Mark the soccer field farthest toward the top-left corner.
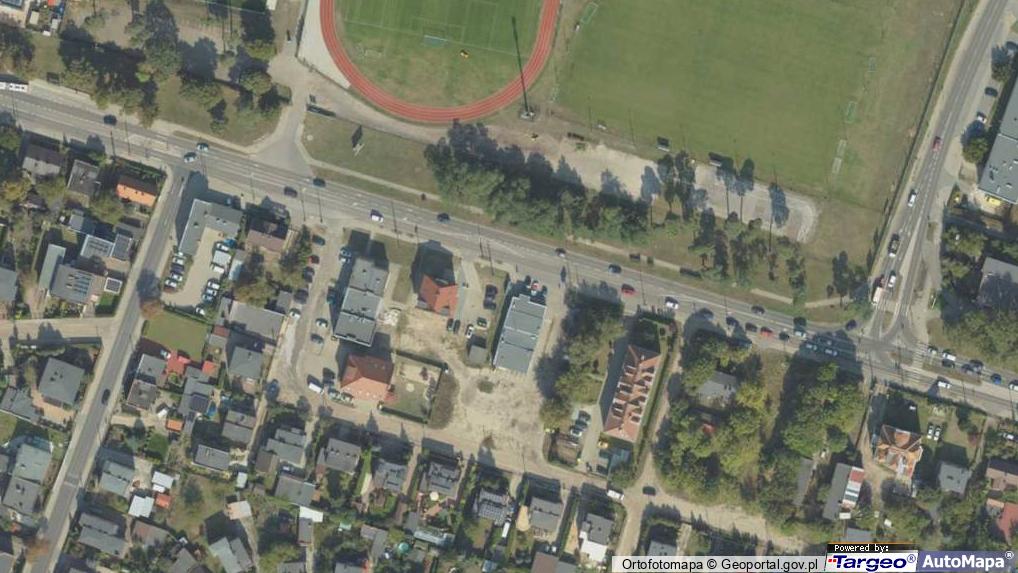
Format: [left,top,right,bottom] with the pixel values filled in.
[345,0,544,60]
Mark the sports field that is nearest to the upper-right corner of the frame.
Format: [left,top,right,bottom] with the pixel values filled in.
[560,0,885,194]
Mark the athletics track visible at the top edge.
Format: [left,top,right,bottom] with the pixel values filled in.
[320,0,562,124]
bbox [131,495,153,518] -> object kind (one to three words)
shed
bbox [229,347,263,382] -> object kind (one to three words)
house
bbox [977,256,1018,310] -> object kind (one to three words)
building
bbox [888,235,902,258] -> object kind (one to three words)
vehicle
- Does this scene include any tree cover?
Yes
